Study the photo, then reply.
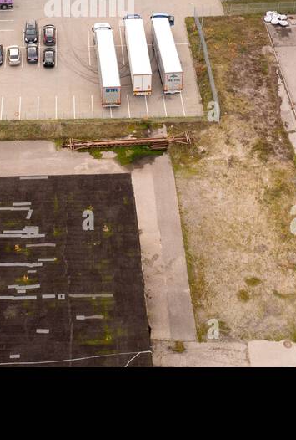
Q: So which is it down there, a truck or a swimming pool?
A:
truck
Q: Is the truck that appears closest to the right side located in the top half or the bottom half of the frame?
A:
top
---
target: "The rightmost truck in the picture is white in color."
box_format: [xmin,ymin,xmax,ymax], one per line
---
[147,13,184,92]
